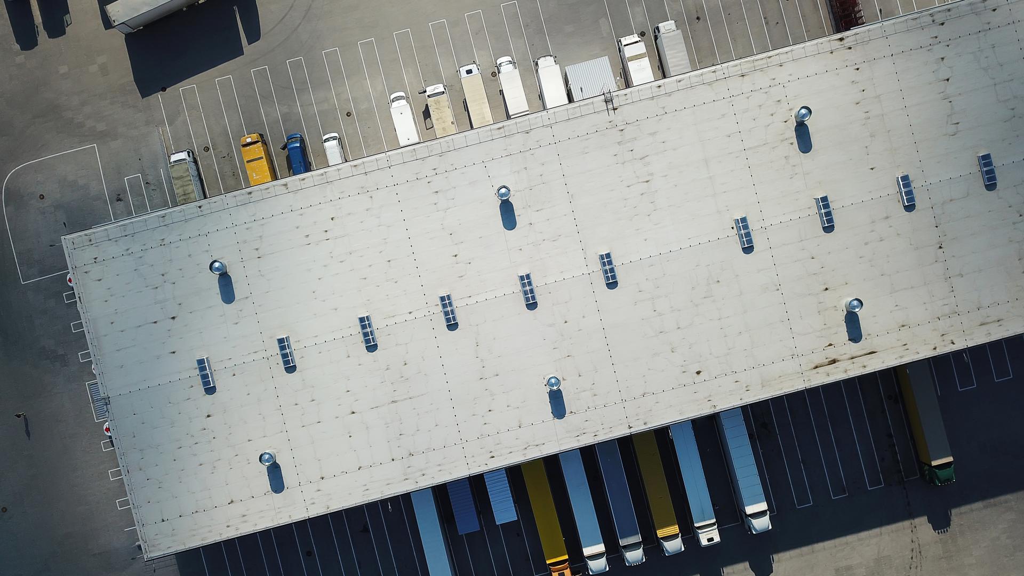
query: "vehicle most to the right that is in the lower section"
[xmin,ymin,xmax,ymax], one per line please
[892,359,955,486]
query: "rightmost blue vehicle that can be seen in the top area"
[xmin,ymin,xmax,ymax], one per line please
[280,133,315,175]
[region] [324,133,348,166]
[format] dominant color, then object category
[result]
white vehicle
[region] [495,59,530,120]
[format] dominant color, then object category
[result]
white truck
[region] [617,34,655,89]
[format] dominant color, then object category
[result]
white truck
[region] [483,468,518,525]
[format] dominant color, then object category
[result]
blue shipping container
